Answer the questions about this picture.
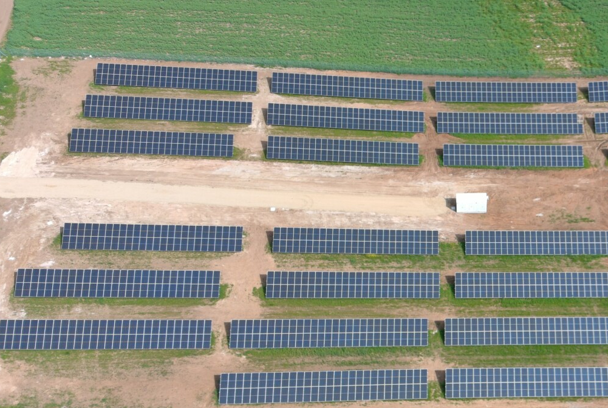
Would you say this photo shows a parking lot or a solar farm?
solar farm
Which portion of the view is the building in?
right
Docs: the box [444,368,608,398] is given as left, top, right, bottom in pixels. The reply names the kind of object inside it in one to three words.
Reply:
solar array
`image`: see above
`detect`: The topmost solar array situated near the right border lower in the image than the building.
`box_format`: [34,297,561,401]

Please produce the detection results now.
[465,231,608,255]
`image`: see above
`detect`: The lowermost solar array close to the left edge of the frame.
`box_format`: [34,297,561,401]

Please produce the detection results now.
[0,320,213,349]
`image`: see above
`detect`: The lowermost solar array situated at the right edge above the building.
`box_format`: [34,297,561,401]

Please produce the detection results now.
[443,144,584,166]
